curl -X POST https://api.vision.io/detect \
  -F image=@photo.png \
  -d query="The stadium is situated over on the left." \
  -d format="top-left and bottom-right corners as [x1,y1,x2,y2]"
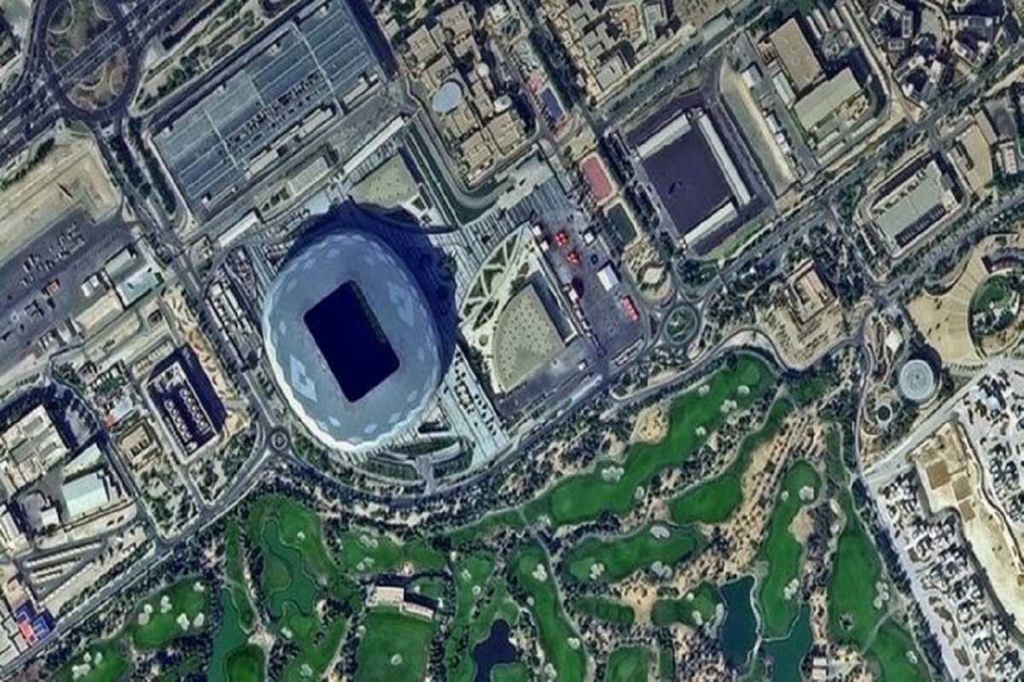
[261,228,443,458]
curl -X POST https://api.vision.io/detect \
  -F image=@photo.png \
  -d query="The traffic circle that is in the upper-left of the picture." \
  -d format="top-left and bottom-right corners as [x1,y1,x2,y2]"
[37,0,141,117]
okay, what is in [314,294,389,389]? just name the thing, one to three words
sports field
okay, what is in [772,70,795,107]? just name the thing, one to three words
shed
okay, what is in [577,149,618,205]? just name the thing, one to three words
sports court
